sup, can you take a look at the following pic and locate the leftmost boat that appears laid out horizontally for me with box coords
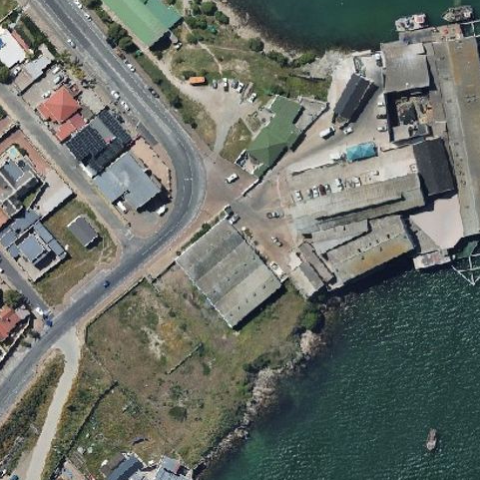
[395,15,426,31]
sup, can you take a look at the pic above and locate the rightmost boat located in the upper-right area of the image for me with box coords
[443,5,478,20]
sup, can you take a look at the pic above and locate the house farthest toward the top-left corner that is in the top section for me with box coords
[0,26,28,68]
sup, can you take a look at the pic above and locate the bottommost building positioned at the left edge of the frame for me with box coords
[0,305,30,341]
